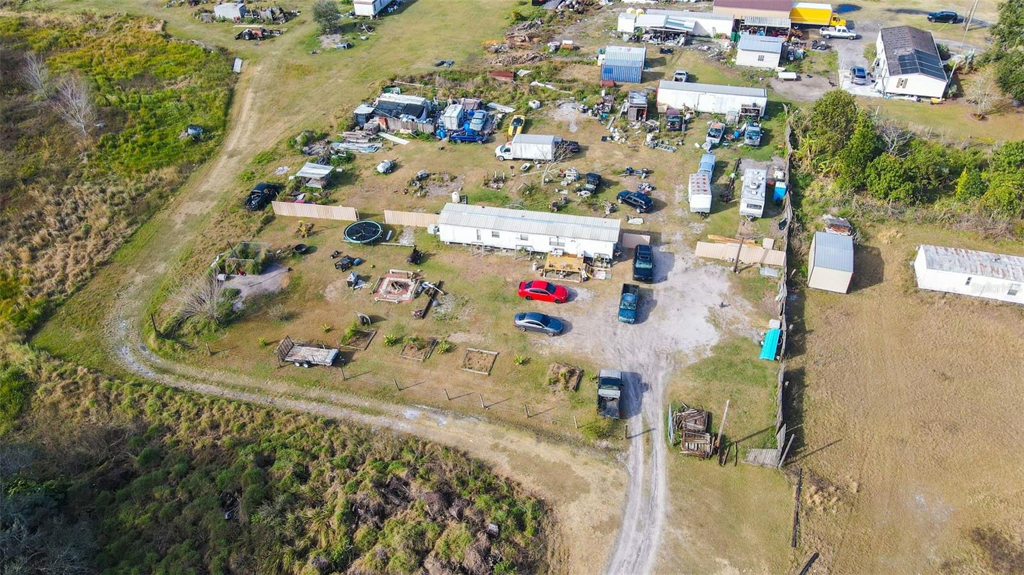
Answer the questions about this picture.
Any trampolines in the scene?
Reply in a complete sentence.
Yes, the photo shows a trampoline.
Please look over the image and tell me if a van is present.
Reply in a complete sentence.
Yes, you can see a van in this photo.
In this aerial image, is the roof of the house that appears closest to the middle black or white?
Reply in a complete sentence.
In this view, the roof of the house that appears closest to the middle is white.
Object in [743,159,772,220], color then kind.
white camper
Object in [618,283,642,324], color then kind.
blue vehicle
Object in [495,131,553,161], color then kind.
white van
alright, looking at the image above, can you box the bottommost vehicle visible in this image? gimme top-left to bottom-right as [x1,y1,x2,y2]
[597,369,624,423]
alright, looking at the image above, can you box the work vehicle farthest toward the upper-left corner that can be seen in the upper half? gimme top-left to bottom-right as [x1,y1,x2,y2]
[233,23,264,38]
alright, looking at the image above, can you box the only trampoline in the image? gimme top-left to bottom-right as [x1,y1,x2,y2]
[343,221,382,248]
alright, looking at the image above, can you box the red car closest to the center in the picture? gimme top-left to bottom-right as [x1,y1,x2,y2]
[520,278,572,302]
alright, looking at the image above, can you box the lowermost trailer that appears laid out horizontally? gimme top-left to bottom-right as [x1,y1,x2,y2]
[270,329,349,364]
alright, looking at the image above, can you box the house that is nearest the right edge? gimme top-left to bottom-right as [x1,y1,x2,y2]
[913,241,1024,304]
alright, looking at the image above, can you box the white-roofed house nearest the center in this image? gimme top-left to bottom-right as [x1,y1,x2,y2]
[438,202,621,261]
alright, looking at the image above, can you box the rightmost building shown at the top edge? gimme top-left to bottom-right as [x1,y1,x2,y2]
[869,25,953,100]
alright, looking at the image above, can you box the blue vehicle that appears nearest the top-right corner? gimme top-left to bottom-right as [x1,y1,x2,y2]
[926,8,961,24]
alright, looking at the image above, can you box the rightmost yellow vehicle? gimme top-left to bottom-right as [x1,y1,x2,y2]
[788,0,848,25]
